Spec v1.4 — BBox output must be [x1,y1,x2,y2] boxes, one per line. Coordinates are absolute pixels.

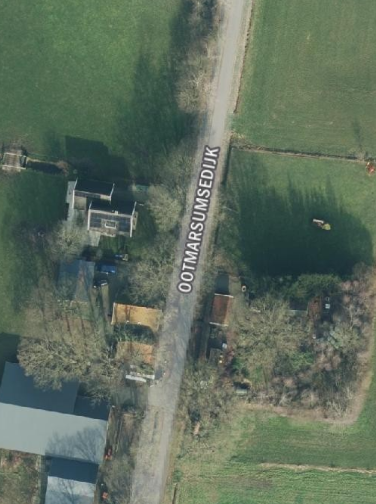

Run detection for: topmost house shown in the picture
[73,178,114,217]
